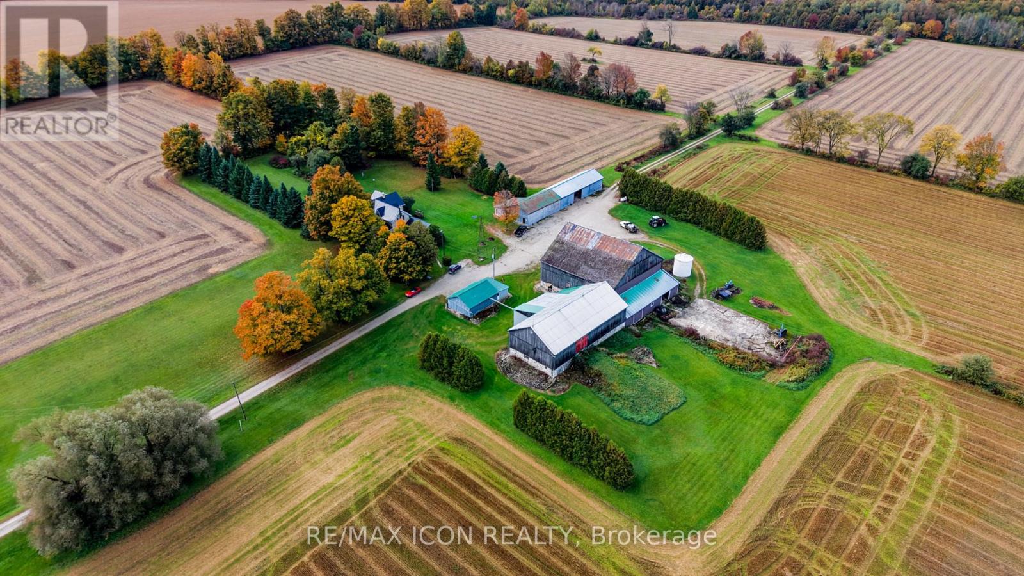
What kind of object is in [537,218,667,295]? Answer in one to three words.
barn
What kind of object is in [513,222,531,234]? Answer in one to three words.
vehicle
